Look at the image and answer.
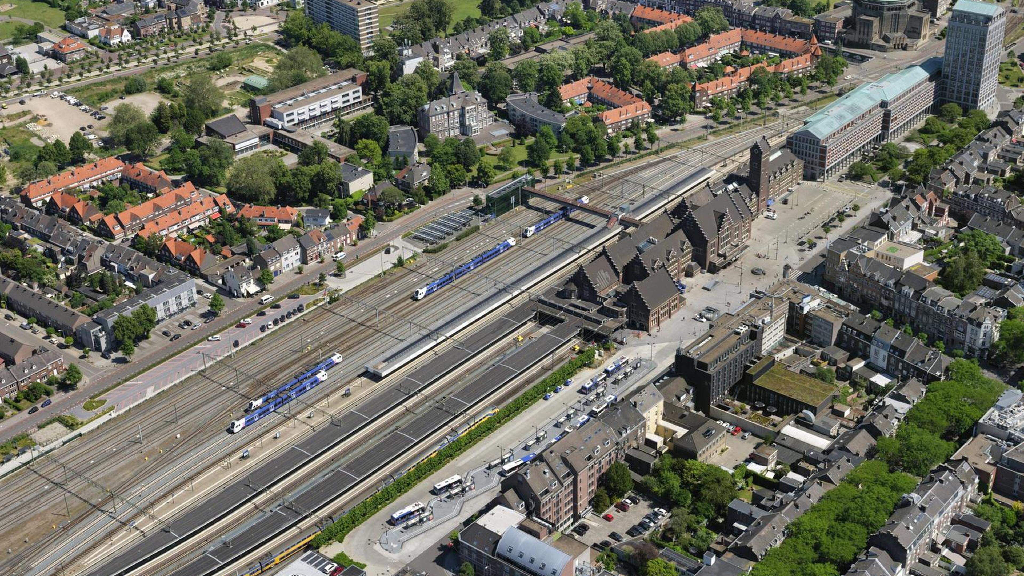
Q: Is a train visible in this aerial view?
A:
Yes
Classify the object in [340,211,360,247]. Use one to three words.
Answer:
house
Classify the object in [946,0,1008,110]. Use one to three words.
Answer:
building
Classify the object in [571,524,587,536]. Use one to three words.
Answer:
vehicle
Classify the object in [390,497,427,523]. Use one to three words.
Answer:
bus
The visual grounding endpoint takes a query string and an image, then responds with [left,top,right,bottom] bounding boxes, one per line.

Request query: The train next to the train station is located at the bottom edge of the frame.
[240,412,500,576]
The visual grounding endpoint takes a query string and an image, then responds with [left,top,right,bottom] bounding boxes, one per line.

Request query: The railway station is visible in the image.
[556,136,809,332]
